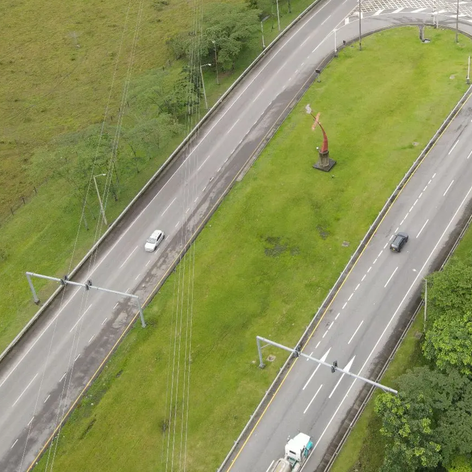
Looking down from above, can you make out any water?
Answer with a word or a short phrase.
No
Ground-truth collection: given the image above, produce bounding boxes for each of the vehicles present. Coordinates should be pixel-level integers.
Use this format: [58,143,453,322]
[271,430,315,472]
[387,231,409,254]
[141,226,166,252]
